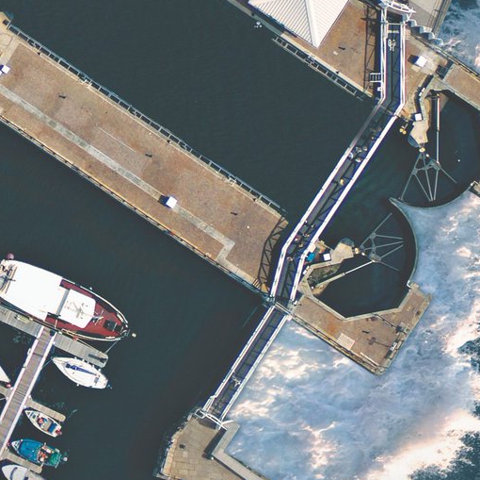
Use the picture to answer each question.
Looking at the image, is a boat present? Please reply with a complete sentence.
Yes, the image includes a boat.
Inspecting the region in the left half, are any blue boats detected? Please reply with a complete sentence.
Yes, there is a blue boat in the left half.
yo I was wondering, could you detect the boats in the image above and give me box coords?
[2,466,47,480]
[0,263,131,338]
[53,358,111,391]
[24,408,64,440]
[10,438,63,472]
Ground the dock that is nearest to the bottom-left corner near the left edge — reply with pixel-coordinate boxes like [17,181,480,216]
[0,444,43,473]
